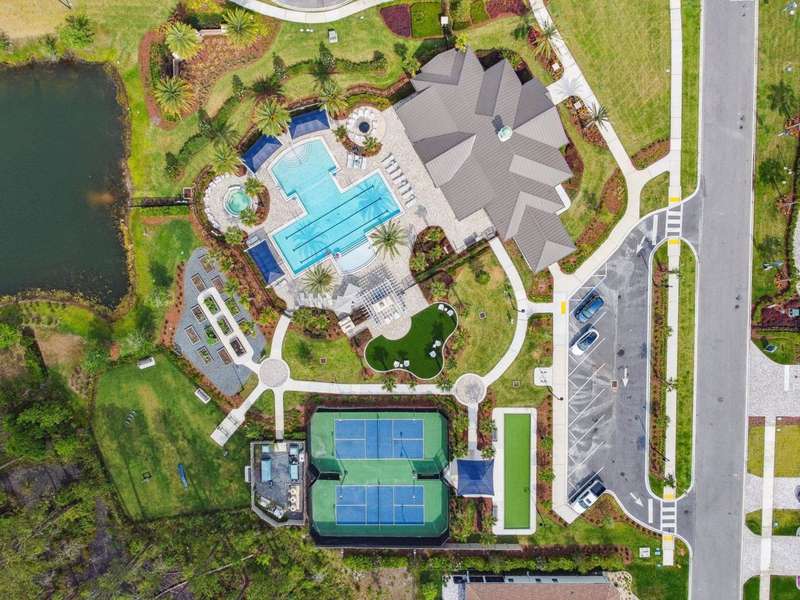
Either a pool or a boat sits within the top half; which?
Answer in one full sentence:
Visible within the top half is a pool.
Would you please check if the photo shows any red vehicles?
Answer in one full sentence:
No, the photo shows no red vehicle.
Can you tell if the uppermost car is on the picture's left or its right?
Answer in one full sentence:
You can find the uppermost car on the right side of the picture.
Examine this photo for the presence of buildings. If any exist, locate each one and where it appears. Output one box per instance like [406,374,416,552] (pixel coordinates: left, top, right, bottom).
[393,45,577,272]
[464,569,615,600]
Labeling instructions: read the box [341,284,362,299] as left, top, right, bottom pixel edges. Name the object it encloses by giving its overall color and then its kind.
white umbrella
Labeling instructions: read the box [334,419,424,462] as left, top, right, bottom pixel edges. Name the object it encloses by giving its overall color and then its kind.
blue sports court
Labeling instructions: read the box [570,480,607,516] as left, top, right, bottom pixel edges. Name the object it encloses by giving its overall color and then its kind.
white truck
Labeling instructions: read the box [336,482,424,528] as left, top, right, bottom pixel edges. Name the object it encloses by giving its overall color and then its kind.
blue sports court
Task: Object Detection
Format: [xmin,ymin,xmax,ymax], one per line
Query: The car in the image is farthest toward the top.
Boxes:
[576,294,606,323]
